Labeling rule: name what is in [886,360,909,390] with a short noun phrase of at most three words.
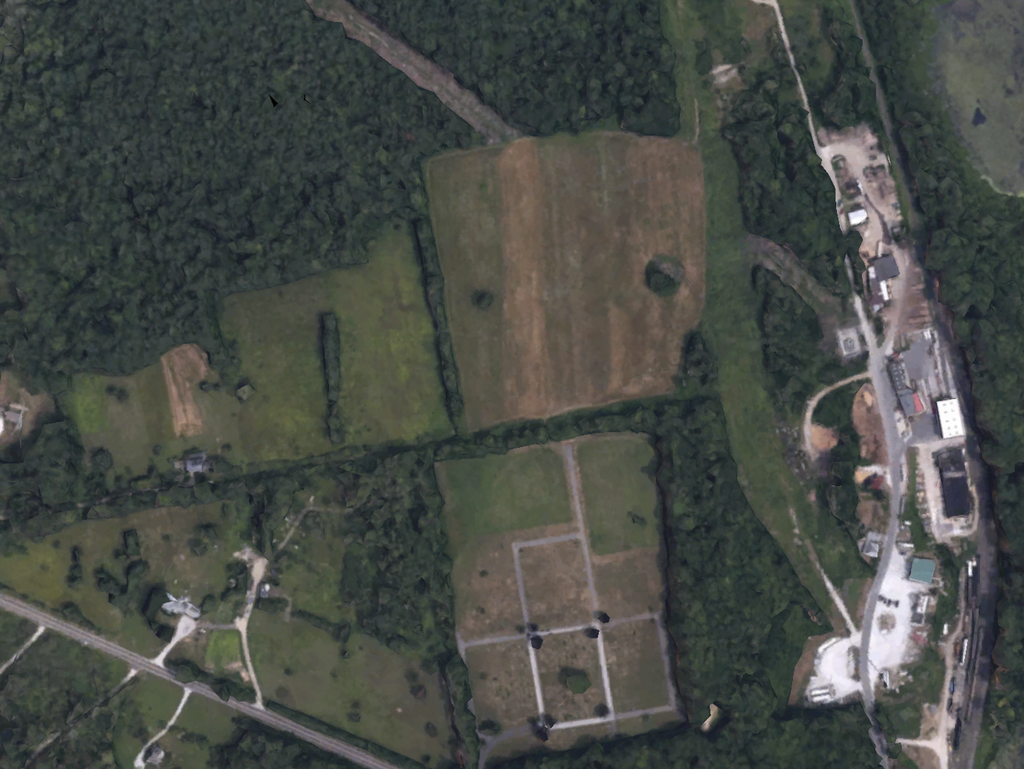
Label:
building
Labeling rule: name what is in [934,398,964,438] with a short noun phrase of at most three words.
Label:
building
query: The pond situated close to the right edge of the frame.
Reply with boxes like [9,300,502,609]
[933,0,1024,190]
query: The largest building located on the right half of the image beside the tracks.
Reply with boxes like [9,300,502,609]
[935,450,974,518]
